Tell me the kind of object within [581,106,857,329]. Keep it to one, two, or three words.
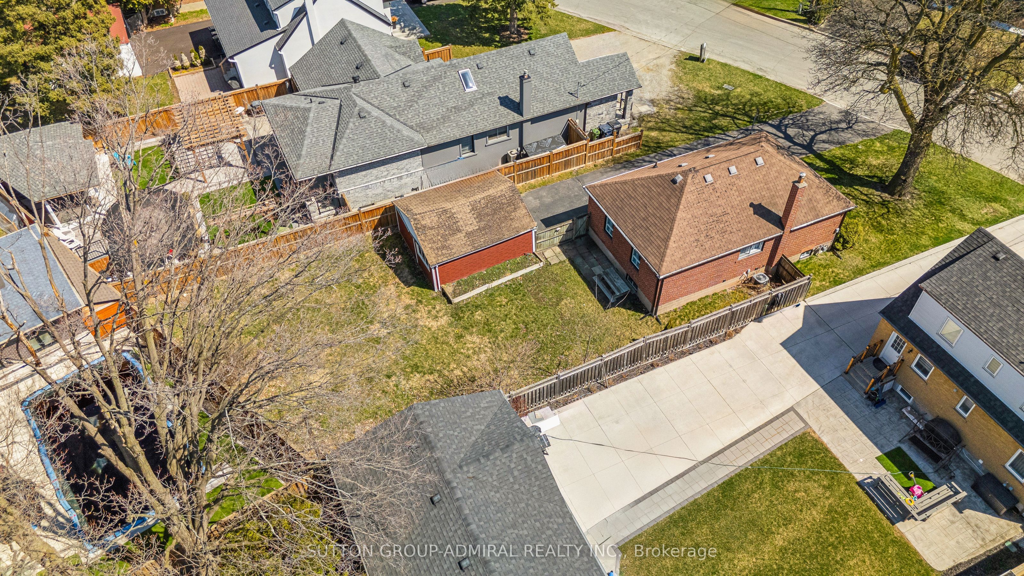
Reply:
house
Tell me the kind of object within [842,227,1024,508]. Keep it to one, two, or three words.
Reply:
house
